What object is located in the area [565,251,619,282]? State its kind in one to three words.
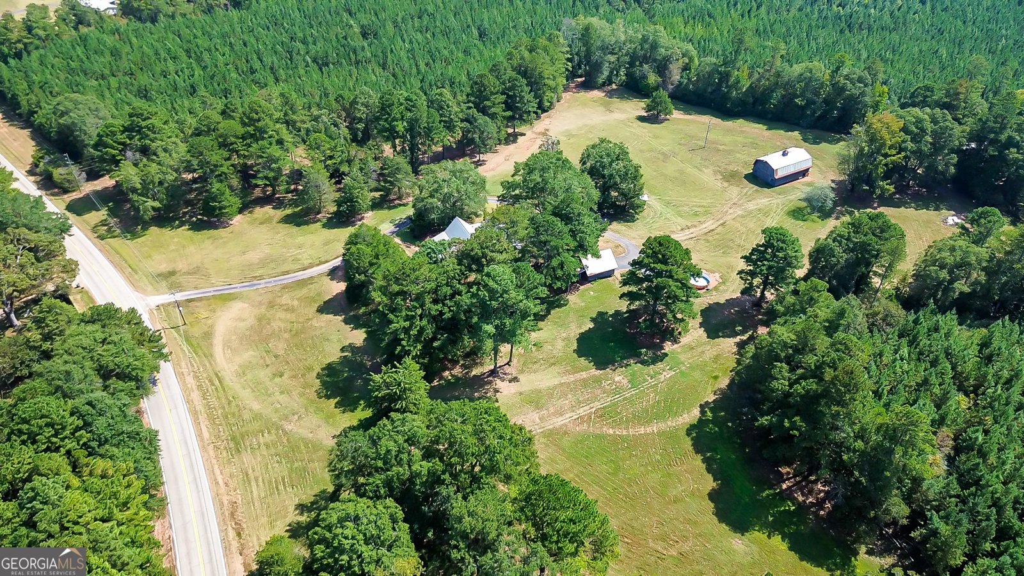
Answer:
building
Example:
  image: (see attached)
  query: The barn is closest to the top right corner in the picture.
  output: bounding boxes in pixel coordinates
[748,146,812,186]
